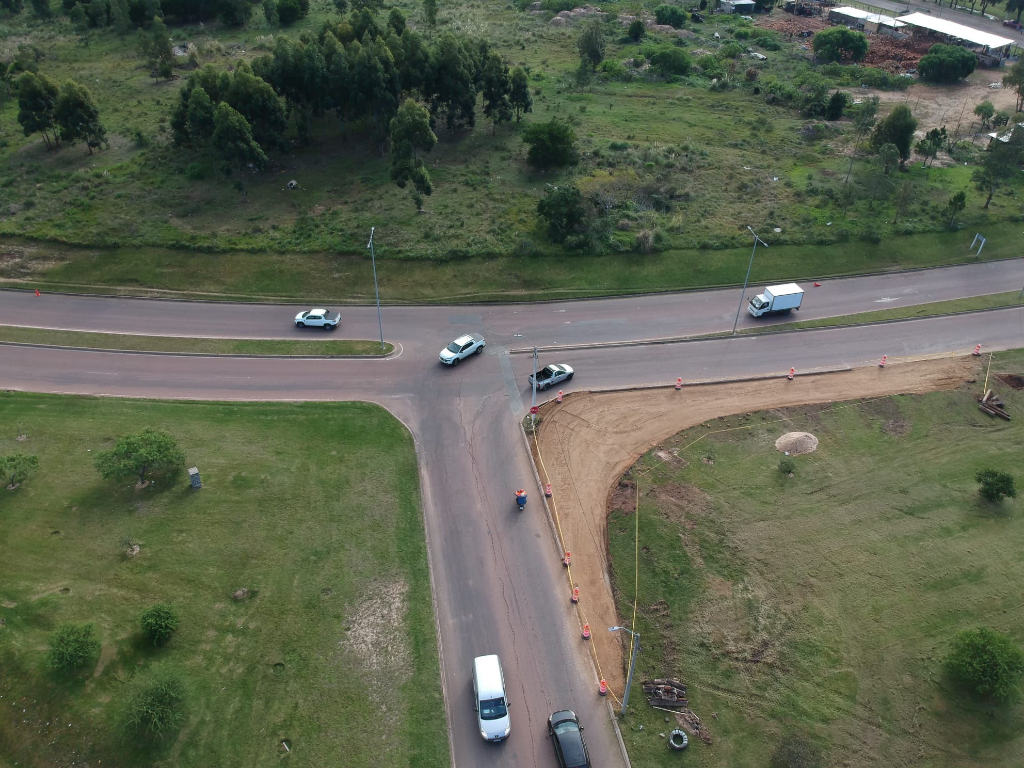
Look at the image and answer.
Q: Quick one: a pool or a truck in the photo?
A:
truck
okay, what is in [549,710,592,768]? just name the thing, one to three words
car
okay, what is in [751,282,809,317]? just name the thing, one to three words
truck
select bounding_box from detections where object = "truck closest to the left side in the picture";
[294,308,340,330]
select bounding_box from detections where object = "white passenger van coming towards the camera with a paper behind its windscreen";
[471,655,512,743]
